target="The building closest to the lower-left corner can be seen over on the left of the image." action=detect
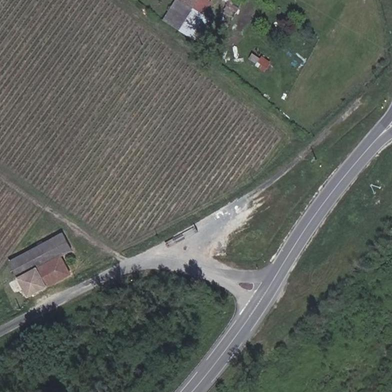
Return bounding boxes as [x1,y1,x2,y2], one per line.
[10,268,47,298]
